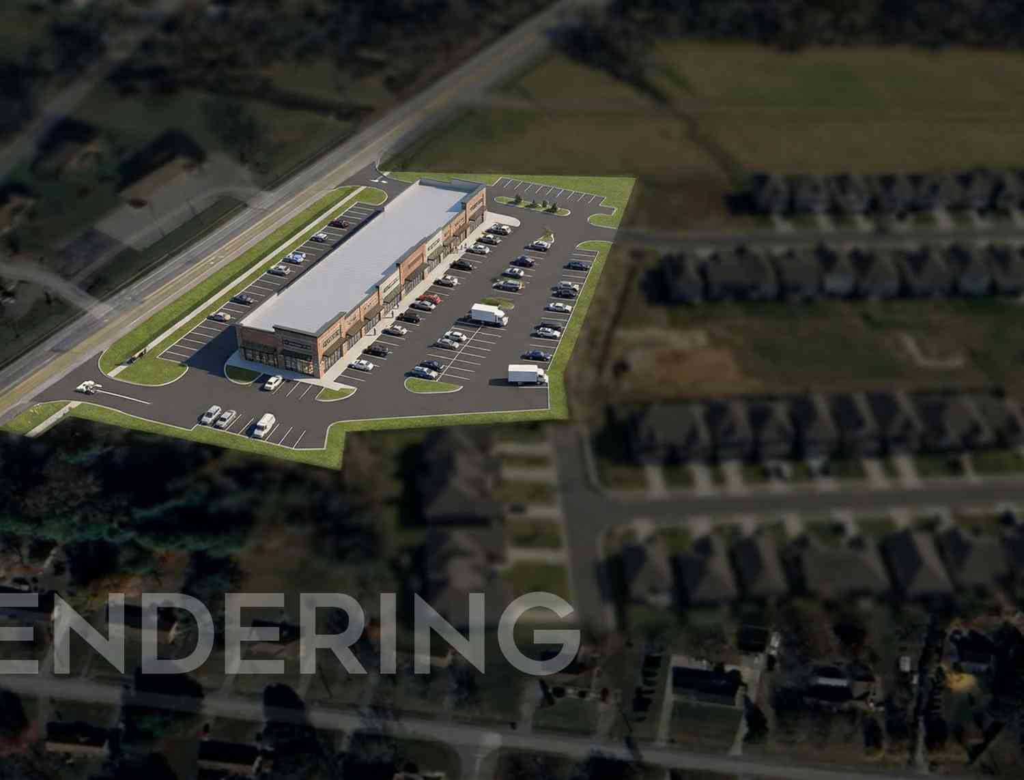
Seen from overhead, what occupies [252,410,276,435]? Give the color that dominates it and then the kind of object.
white vehicle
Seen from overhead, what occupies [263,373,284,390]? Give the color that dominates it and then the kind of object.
white car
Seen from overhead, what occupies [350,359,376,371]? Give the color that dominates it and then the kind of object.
white vehicle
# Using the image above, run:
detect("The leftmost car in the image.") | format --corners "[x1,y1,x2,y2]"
[76,381,96,393]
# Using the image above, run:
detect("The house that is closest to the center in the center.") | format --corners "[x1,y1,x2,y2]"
[427,416,500,465]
